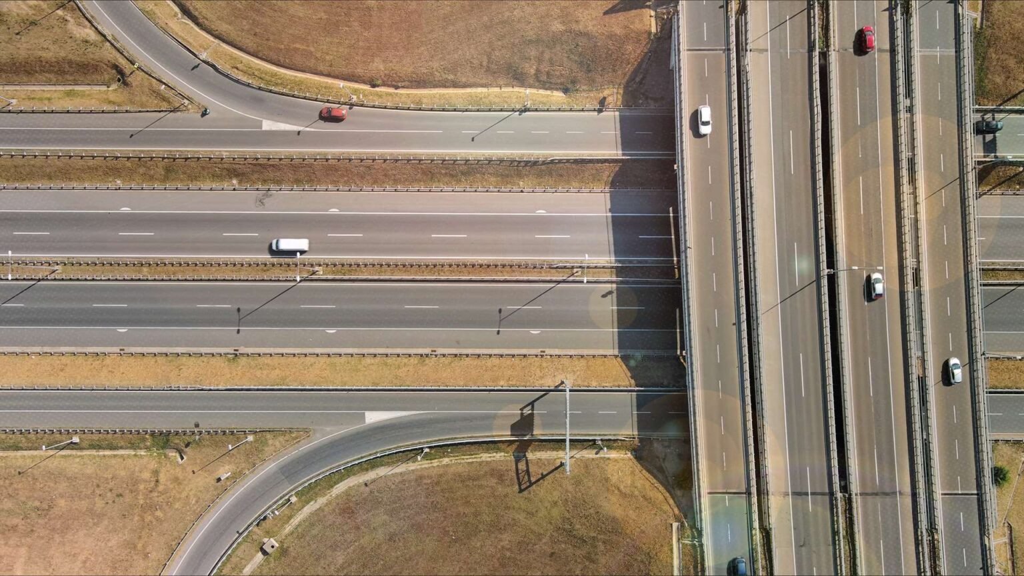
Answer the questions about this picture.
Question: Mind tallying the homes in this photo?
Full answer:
I count no homes.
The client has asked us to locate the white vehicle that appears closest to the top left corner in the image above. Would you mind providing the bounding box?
[272,238,309,253]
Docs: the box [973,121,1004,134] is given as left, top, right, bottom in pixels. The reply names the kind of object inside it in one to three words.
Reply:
vehicle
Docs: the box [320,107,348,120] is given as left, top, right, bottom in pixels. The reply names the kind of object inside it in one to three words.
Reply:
vehicle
